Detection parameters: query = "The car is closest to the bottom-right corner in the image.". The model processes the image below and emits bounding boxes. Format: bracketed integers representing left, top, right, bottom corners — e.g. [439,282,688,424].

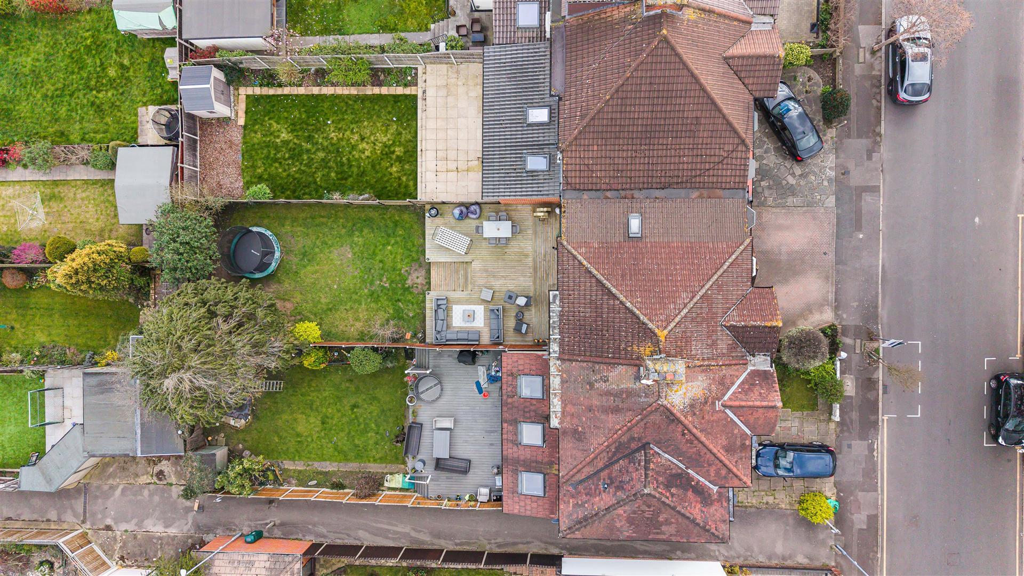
[987,373,1024,444]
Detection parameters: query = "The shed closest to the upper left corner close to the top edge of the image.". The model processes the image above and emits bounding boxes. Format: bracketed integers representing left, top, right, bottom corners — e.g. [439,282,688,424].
[111,0,181,41]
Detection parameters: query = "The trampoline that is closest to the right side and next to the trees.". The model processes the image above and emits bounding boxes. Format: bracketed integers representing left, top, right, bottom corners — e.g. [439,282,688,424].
[217,222,295,278]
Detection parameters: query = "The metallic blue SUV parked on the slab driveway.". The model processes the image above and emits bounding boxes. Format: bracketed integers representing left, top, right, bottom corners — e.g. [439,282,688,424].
[753,439,832,479]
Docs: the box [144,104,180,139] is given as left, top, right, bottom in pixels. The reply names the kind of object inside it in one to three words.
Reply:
trampoline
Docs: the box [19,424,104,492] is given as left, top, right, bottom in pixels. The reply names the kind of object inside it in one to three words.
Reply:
building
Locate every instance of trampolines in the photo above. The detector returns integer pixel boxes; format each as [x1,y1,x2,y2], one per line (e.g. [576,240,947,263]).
[144,104,180,139]
[217,222,295,278]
